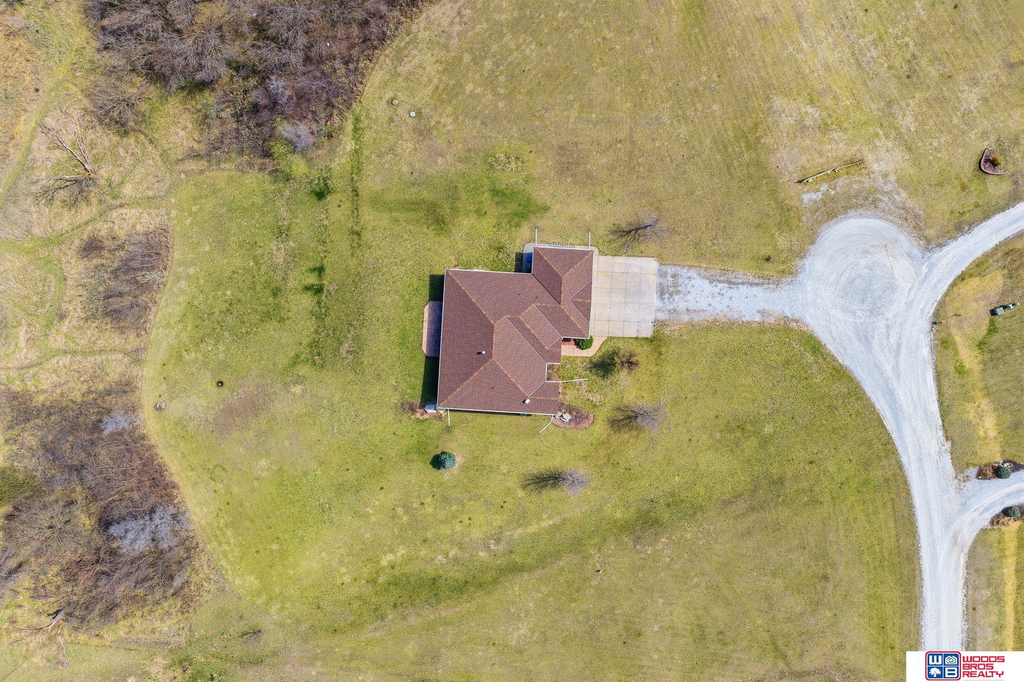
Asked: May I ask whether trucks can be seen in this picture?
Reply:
No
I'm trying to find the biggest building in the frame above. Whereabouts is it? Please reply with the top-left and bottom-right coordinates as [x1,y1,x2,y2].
[436,245,595,416]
